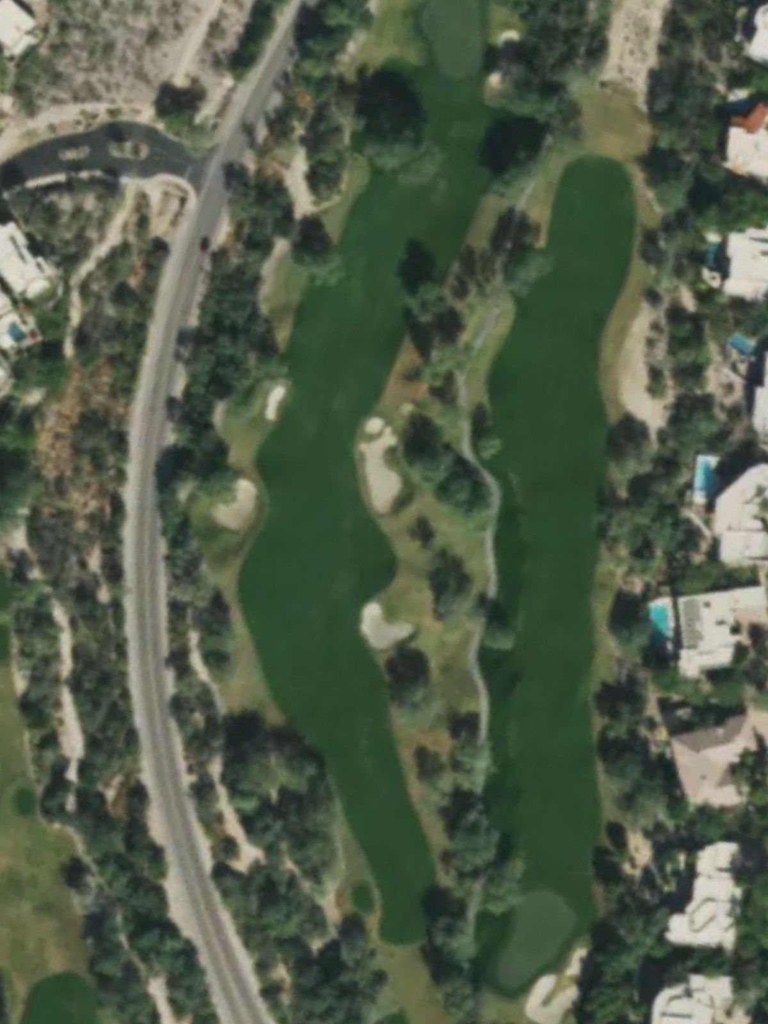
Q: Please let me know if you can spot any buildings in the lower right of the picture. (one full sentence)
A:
Yes, you'll find a building in the lower right of the picture.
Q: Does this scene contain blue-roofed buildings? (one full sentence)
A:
No, I can't see a single blue-roofed building in this photo.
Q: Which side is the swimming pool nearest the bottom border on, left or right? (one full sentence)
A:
You can find the swimming pool nearest the bottom border on the right side of the picture.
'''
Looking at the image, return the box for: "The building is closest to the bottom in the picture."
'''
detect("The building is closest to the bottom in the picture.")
[652,975,752,1024]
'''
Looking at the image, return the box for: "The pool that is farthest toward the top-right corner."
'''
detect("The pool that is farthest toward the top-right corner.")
[704,234,721,267]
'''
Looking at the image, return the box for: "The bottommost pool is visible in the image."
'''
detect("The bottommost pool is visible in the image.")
[649,596,677,648]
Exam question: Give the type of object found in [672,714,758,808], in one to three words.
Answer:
house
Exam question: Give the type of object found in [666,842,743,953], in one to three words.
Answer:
house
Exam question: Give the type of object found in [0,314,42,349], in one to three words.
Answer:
swimming pool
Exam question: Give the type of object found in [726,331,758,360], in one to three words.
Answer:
swimming pool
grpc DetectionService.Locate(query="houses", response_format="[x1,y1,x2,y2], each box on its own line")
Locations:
[666,842,743,953]
[753,352,768,442]
[0,221,49,297]
[652,975,752,1024]
[714,464,768,566]
[672,714,758,808]
[0,292,15,320]
[723,227,768,301]
[0,0,37,56]
[749,1,768,62]
[726,103,768,181]
[678,586,768,679]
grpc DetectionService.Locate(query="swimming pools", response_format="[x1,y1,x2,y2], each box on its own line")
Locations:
[704,234,721,267]
[693,455,719,504]
[649,596,677,648]
[726,331,758,360]
[0,314,42,349]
